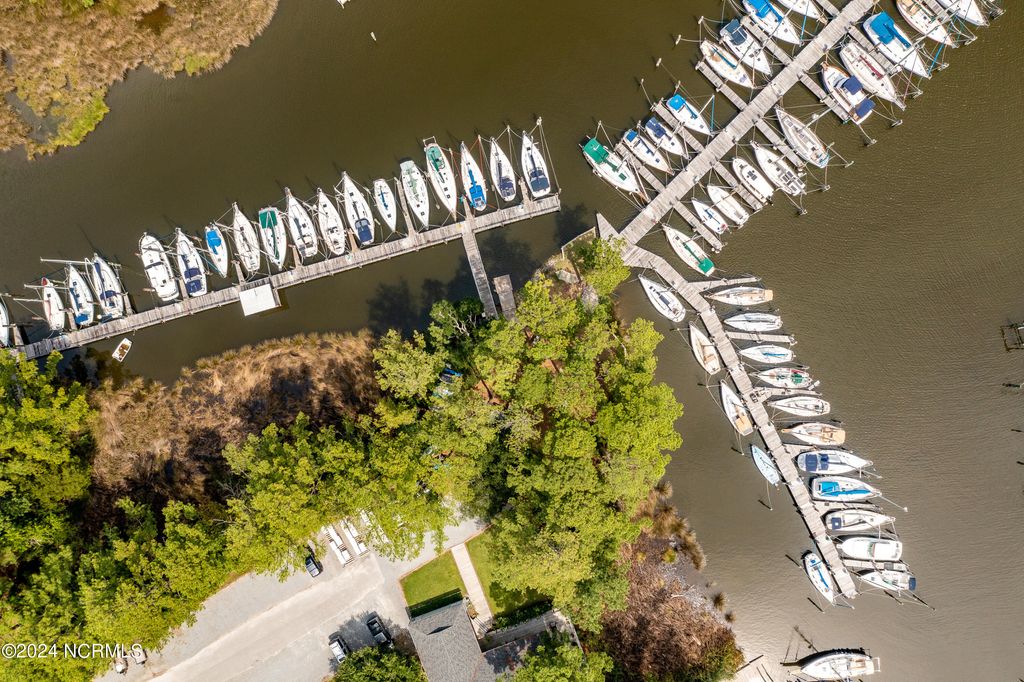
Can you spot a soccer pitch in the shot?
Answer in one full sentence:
No, there isn't any soccer pitch down there.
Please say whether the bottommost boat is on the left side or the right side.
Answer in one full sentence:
You can find the bottommost boat on the right side of the picture.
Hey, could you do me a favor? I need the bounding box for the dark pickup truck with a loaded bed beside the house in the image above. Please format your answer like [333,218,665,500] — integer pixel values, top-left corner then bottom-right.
[364,614,393,646]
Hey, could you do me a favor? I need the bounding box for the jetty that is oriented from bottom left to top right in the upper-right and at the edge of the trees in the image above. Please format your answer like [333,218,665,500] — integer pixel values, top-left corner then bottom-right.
[590,0,1002,261]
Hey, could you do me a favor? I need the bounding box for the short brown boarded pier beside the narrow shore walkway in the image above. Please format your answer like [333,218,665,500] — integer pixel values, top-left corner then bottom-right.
[492,273,516,321]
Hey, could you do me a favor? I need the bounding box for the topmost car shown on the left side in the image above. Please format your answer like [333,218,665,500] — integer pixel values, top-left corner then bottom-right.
[305,551,324,578]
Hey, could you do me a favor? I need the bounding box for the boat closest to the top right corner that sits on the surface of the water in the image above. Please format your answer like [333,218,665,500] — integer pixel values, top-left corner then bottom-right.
[939,0,1004,37]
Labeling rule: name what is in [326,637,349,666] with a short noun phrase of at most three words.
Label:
truck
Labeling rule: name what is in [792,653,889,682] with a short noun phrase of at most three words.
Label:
boat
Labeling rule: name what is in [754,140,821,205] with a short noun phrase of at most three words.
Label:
boat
